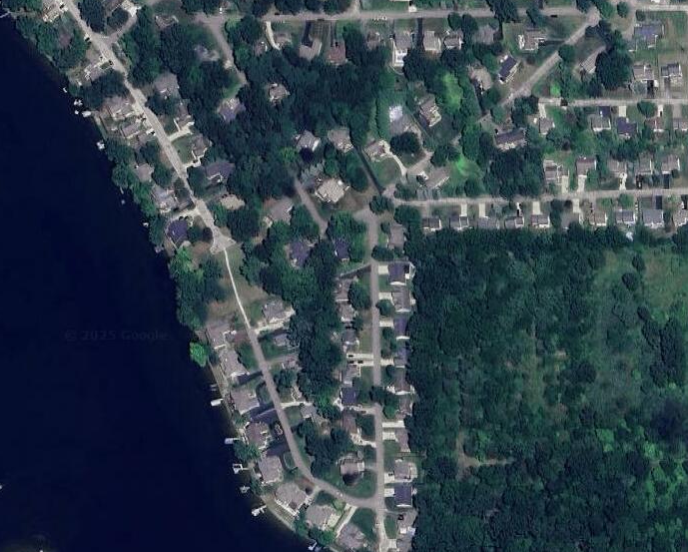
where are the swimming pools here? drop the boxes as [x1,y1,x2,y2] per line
[394,54,406,66]
[390,107,402,120]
